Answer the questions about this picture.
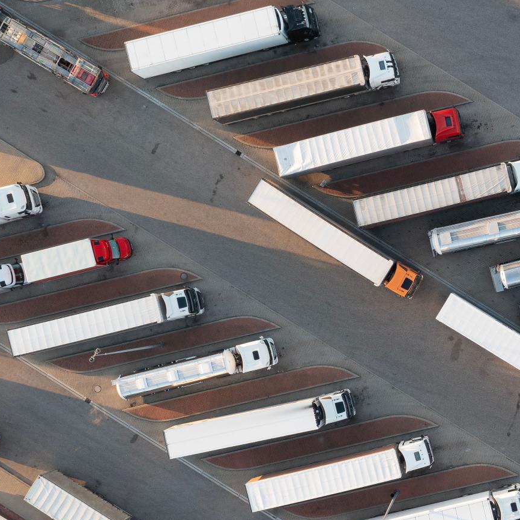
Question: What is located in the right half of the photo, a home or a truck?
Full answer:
You can see a truck in the right half of the photo.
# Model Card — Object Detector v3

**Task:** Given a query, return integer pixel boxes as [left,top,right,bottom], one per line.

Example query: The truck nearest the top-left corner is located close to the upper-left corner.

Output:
[0,6,114,99]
